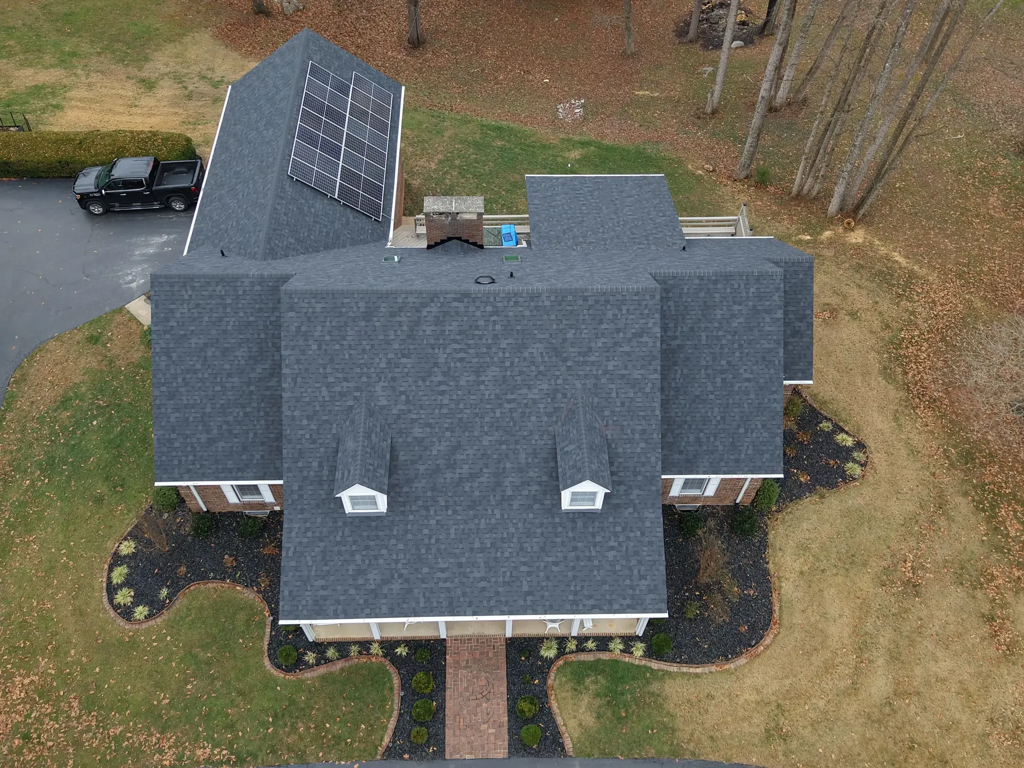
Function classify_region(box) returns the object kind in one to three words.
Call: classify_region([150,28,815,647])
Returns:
house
